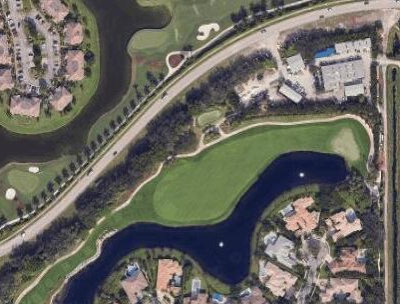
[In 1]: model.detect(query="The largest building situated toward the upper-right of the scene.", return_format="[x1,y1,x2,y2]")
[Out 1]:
[322,60,365,92]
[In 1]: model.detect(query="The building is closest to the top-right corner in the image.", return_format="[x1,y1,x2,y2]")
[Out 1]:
[336,38,371,54]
